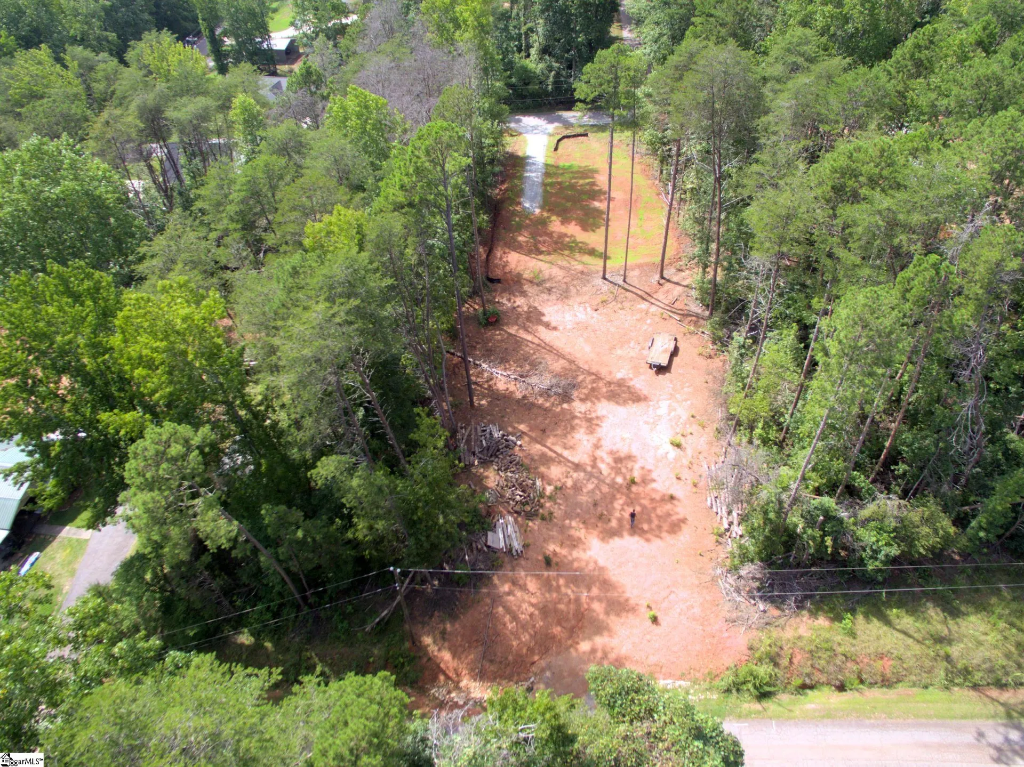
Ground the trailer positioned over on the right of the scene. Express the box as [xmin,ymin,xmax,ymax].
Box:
[644,333,677,376]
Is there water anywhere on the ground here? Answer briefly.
No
